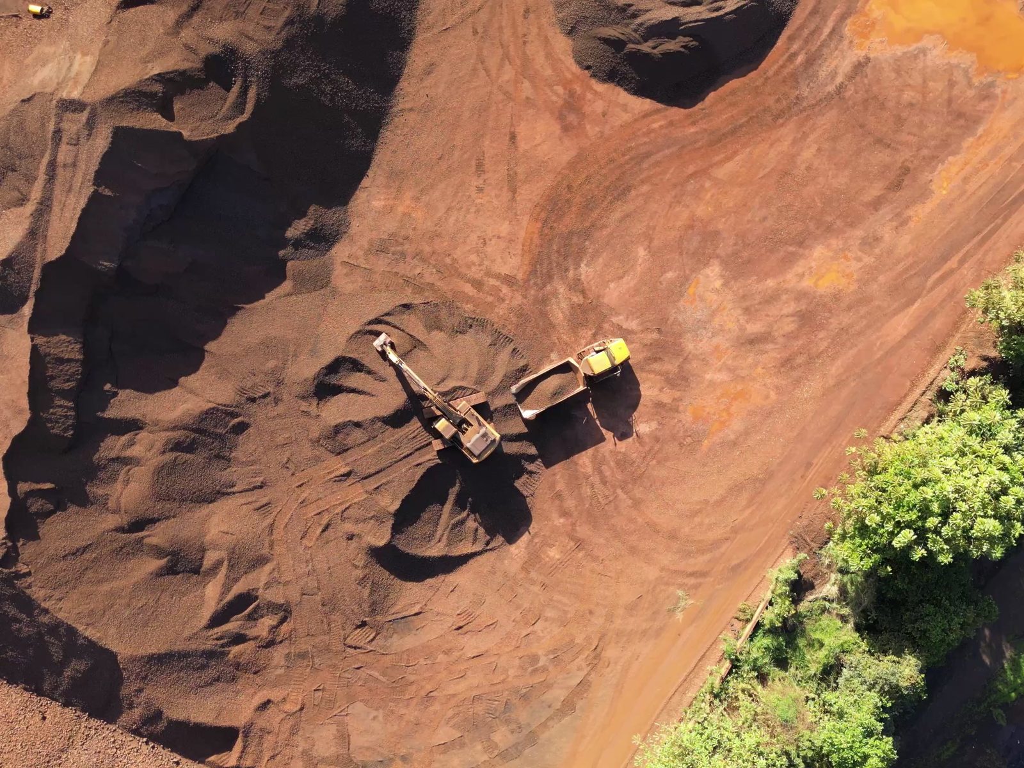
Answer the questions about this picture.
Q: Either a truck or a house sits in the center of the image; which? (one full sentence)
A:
The one visible in the center of the image is a truck.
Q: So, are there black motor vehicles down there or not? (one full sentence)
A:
No, I find no black motor vehicle anywhere in the image.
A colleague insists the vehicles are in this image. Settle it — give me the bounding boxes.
[509,335,635,420]
[371,333,497,459]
